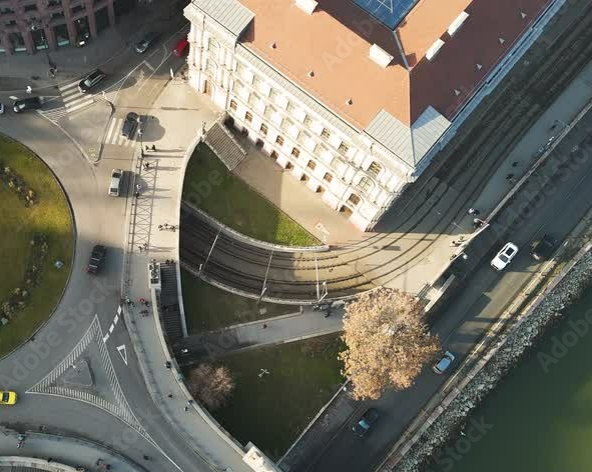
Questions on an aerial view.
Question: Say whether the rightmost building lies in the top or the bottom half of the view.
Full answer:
It is in the top half that the rightmost building appears.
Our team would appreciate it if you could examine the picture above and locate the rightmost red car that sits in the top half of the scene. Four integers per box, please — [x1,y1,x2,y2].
[172,32,190,55]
